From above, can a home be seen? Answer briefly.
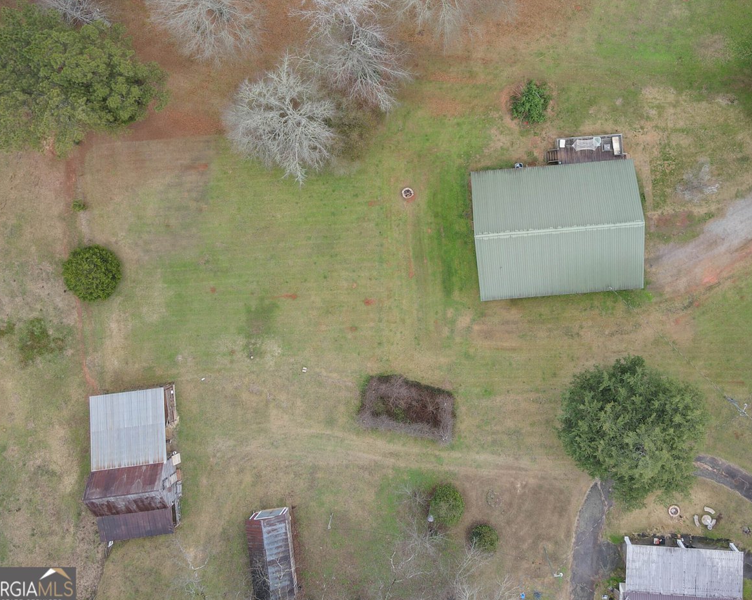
Yes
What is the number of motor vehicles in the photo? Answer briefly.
0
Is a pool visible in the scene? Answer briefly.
No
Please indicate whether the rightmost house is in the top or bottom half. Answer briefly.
bottom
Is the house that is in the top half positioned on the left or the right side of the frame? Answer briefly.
right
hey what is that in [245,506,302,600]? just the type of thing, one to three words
shed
